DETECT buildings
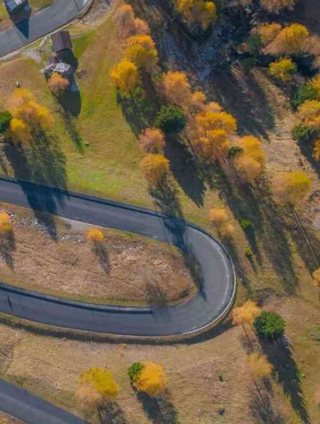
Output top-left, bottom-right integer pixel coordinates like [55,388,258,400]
[52,32,73,59]
[1,0,29,19]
